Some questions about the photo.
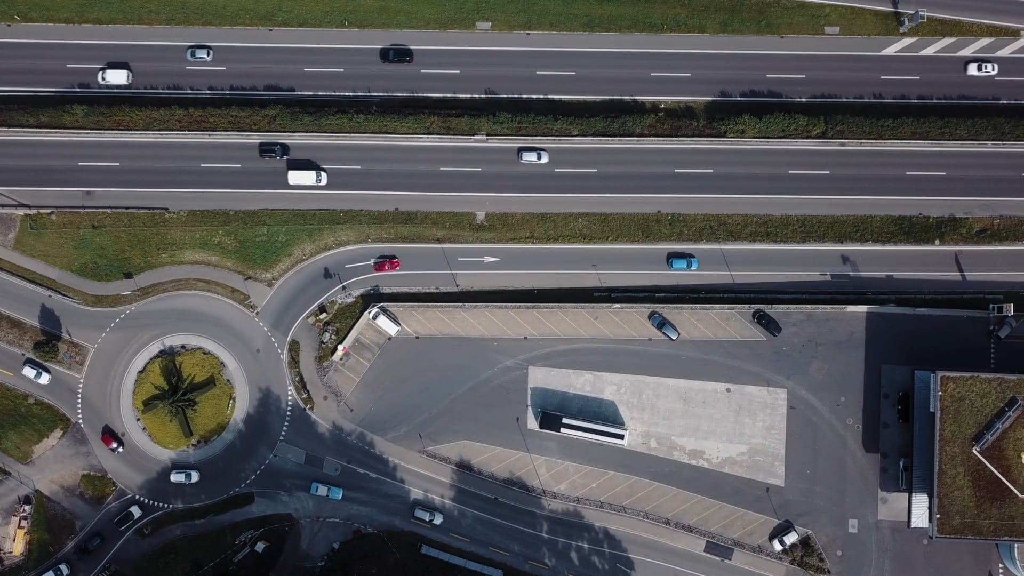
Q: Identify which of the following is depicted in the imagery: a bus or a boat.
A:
bus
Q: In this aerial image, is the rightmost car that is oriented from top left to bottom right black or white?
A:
black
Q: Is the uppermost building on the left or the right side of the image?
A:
right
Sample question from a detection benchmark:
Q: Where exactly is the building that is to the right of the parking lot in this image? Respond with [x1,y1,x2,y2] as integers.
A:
[922,364,1024,543]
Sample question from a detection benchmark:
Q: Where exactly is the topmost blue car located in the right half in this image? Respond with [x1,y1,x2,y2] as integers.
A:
[669,256,697,271]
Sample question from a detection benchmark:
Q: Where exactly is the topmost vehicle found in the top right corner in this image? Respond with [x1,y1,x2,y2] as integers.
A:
[966,61,997,76]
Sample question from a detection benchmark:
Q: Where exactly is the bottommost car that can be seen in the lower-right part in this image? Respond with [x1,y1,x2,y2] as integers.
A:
[770,525,800,549]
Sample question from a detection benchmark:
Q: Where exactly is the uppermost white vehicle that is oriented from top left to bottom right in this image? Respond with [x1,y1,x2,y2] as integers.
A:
[368,307,403,339]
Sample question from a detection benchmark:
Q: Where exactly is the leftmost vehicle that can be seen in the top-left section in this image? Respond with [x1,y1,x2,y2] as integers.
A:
[98,68,133,84]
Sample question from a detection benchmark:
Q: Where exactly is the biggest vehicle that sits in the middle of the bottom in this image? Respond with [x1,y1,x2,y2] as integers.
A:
[534,406,629,445]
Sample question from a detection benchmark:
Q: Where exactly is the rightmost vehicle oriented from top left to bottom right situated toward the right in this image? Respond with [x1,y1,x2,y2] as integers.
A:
[752,310,782,337]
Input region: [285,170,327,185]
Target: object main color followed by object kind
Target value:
white vehicle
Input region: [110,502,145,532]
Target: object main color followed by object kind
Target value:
black truck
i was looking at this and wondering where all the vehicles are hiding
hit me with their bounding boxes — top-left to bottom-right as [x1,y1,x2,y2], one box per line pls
[650,312,679,340]
[98,68,133,84]
[770,525,800,549]
[381,47,413,63]
[411,505,443,525]
[170,469,201,484]
[101,431,124,455]
[966,61,997,76]
[110,502,145,532]
[368,307,403,339]
[669,256,697,271]
[534,406,629,445]
[752,310,782,337]
[259,144,290,159]
[373,258,401,271]
[285,170,327,185]
[20,363,53,384]
[310,482,343,499]
[39,560,72,576]
[519,149,549,163]
[186,46,214,61]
